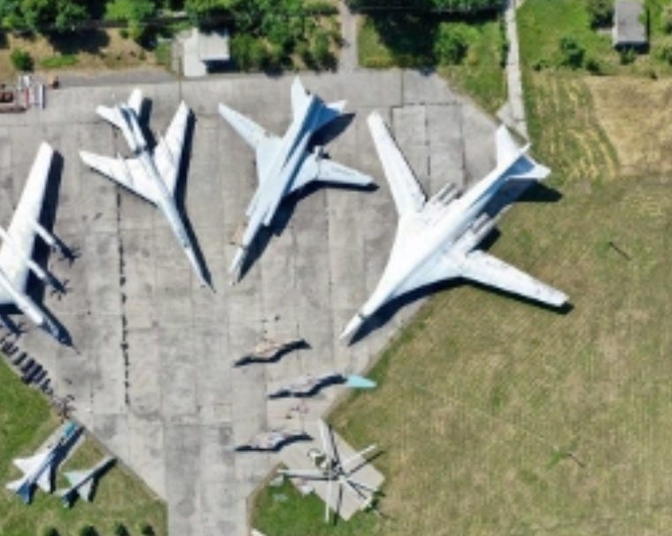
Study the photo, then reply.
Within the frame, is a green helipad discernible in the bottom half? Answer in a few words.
No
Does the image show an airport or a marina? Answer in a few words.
airport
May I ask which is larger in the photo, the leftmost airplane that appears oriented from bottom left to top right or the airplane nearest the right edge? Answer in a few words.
the airplane nearest the right edge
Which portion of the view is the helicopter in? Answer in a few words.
bottom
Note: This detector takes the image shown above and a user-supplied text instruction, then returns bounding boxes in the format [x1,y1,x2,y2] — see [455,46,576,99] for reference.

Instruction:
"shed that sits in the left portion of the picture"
[200,33,229,60]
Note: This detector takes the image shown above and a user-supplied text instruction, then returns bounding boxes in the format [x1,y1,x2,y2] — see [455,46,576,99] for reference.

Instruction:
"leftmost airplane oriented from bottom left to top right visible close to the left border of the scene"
[4,421,80,504]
